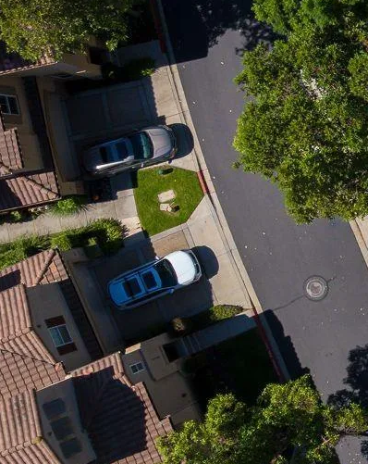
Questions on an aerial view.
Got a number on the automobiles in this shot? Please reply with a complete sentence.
Looking from above, you can make out 2 automobiles.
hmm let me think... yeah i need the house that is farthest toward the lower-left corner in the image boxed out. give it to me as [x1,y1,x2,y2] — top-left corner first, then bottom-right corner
[0,249,218,464]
